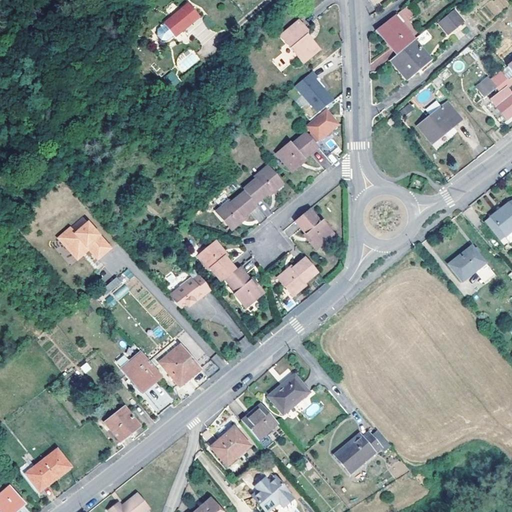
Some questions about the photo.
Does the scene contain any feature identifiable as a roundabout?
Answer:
Yes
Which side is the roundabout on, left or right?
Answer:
right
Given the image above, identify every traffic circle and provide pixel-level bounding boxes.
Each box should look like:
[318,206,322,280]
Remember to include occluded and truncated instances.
[352,175,438,260]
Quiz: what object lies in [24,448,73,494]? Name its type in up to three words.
house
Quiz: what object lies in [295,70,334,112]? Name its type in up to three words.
house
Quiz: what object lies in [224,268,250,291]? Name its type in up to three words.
building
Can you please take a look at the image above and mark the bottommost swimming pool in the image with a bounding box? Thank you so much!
[304,402,322,417]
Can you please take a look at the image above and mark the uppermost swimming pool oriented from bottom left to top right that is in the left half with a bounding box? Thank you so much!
[178,54,199,72]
